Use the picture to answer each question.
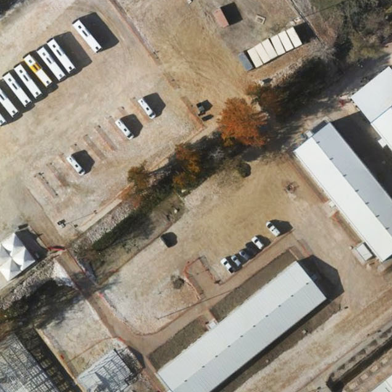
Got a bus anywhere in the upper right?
No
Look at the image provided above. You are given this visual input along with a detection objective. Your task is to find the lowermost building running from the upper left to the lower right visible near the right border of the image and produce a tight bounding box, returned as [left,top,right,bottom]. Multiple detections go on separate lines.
[294,123,392,261]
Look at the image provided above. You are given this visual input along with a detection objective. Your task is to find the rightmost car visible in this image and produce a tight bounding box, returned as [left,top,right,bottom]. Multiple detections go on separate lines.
[267,221,280,236]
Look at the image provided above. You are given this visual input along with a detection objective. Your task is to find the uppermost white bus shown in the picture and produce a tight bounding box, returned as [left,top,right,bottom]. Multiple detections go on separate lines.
[69,17,101,53]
